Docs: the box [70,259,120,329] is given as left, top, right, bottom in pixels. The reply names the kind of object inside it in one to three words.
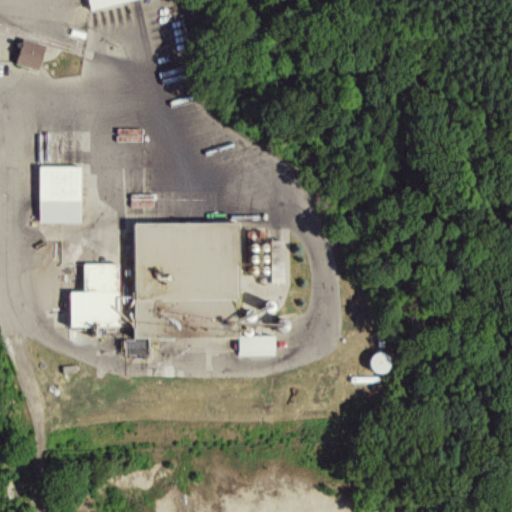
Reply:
building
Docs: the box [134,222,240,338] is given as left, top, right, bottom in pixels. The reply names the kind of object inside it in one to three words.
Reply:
building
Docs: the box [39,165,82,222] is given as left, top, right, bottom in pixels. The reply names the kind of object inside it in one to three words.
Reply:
shed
